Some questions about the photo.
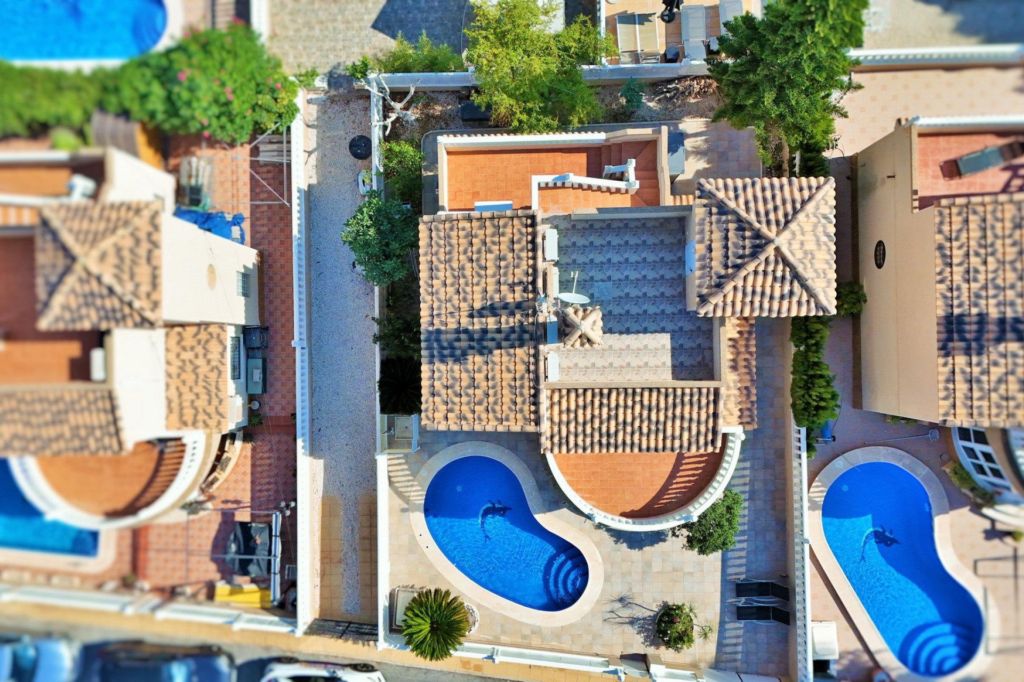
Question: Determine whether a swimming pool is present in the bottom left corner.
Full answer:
Yes, the scene does show a swimming pool in the bottom left corner.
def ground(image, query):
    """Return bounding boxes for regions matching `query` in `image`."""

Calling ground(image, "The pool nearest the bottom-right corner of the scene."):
[809,447,1001,682]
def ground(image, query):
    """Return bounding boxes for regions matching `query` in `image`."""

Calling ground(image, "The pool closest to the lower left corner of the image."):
[0,455,113,572]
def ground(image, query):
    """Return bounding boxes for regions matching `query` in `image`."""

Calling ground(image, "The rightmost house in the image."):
[855,122,1024,527]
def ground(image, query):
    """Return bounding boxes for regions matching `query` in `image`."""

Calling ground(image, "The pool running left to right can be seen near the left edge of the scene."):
[0,0,181,75]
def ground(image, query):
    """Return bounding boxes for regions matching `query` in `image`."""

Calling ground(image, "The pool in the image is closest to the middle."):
[409,441,604,627]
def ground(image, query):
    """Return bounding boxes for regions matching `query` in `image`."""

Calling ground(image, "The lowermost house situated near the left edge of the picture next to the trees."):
[0,147,259,540]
